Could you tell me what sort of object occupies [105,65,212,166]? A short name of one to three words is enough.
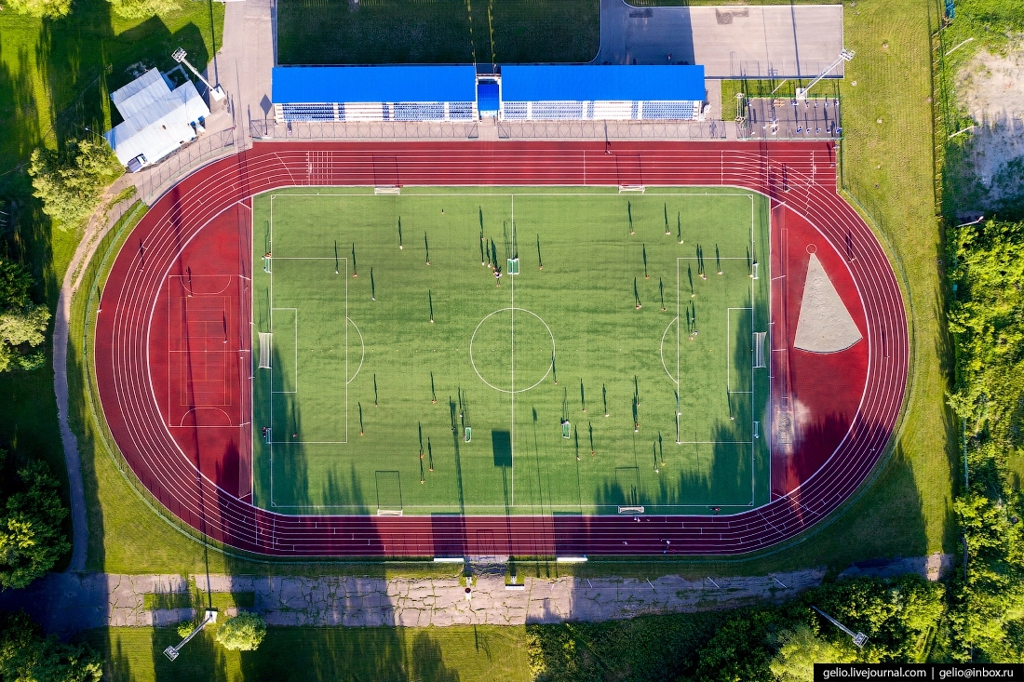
building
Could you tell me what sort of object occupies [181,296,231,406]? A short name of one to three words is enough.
tennis court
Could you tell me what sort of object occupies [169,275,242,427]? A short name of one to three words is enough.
basketball court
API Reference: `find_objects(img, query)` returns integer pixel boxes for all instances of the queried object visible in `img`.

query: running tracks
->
[94,142,909,556]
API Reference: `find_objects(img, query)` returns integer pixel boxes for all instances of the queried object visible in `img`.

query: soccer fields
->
[252,185,771,515]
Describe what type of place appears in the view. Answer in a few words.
sports ground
